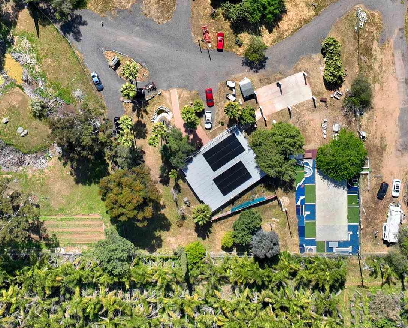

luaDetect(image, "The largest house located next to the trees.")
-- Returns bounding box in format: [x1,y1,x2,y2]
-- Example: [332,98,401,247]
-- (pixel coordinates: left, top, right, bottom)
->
[183,125,267,211]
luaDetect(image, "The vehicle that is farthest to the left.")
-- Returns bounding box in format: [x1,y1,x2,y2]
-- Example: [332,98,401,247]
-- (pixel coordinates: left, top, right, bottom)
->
[90,71,105,91]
